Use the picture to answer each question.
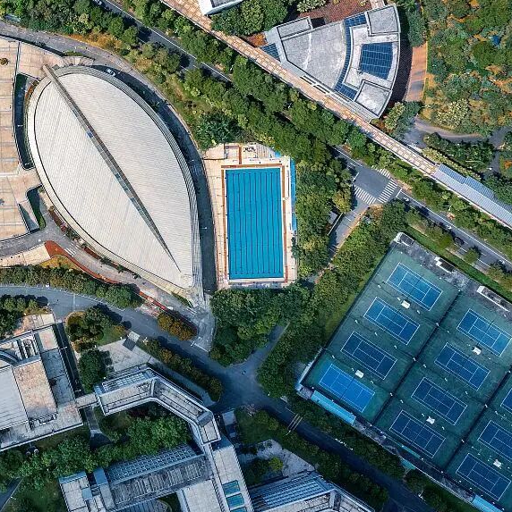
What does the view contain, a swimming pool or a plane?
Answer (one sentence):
Looking from above, you can make out a swimming pool.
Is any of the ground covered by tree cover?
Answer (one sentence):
Yes, there is tree cover in the image.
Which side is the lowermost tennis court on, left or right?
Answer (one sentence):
The lowermost tennis court sits on the right side.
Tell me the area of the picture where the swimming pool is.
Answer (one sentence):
The swimming pool appears toward the center of the photo.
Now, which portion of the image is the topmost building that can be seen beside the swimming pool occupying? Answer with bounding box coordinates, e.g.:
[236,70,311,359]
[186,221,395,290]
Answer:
[256,3,401,120]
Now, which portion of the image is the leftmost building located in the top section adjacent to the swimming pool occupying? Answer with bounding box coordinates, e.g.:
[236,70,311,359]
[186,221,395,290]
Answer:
[27,64,202,304]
